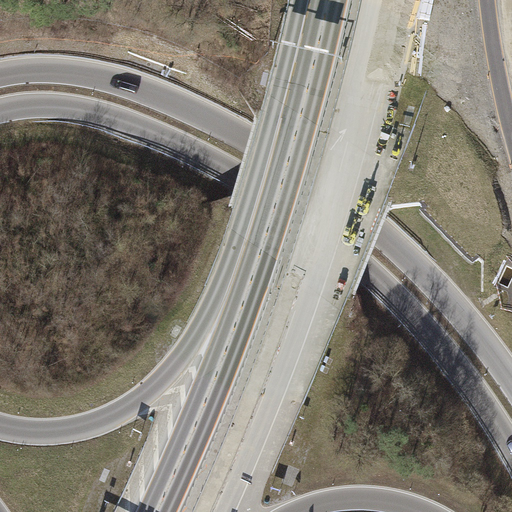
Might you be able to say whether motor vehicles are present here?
Yes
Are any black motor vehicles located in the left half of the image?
Yes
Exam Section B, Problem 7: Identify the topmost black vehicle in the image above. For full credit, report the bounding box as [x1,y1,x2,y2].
[111,76,138,93]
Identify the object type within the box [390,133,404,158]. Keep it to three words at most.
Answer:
work vehicle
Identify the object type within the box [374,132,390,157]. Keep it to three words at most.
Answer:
vehicle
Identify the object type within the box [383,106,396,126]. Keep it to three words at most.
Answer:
vehicle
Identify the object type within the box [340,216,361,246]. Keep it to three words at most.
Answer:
work vehicle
